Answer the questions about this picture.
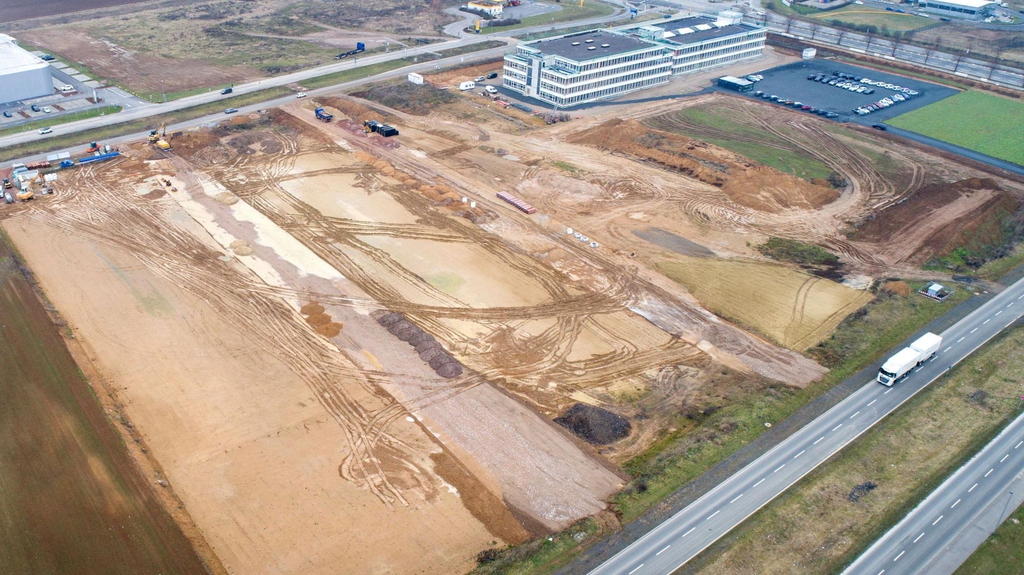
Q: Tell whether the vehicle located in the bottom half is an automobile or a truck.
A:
truck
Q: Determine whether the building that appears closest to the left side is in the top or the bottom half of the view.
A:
top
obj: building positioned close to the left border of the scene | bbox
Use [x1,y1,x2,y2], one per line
[0,32,49,98]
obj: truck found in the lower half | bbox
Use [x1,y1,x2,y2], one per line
[881,333,943,384]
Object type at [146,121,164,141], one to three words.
work vehicle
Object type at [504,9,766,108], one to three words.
building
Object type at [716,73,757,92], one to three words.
building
